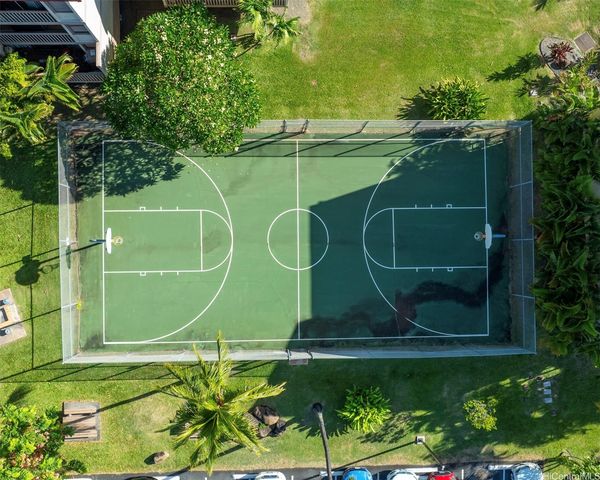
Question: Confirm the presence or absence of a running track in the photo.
No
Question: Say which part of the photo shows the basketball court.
center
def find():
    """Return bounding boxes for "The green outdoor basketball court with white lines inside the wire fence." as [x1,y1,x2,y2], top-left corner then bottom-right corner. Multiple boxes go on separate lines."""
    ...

[79,132,511,352]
